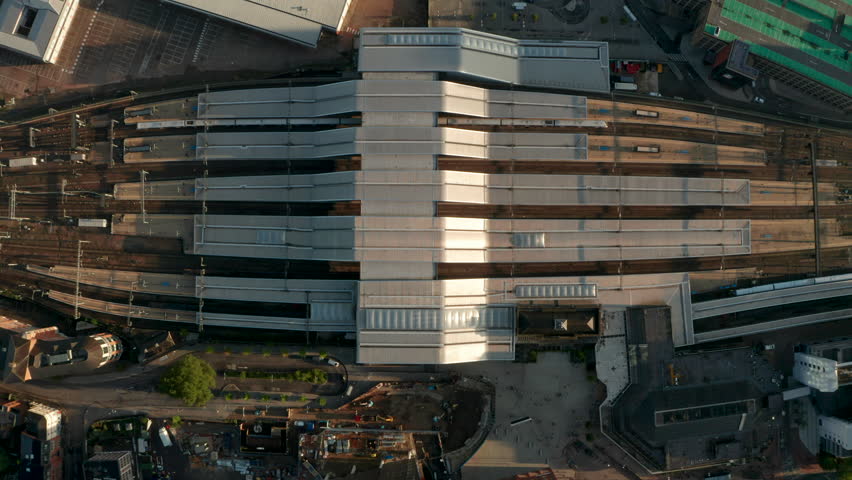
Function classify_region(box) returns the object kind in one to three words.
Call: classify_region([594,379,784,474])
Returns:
building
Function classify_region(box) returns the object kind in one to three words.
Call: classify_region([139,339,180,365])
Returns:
shed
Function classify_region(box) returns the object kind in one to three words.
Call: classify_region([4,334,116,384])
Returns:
building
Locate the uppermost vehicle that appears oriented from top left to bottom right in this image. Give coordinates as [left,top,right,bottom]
[622,2,638,20]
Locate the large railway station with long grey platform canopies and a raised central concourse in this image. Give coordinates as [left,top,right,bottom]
[27,27,852,364]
